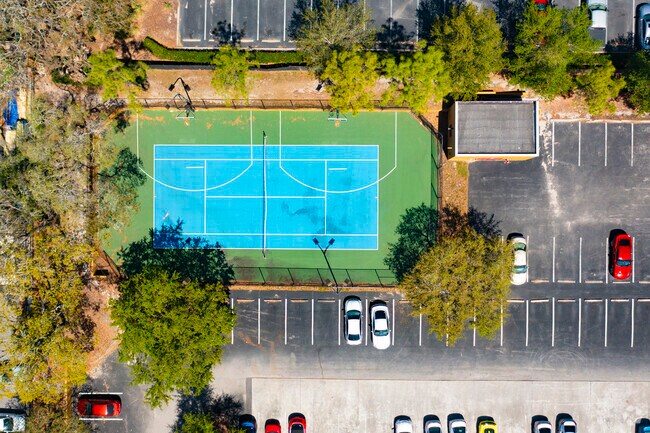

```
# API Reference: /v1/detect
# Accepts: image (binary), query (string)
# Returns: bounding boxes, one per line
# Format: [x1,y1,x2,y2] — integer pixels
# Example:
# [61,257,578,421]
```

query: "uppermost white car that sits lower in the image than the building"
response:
[508,238,530,285]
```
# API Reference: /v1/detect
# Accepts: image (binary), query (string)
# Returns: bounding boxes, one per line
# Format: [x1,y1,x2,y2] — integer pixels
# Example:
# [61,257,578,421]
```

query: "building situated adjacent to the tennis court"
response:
[448,100,540,161]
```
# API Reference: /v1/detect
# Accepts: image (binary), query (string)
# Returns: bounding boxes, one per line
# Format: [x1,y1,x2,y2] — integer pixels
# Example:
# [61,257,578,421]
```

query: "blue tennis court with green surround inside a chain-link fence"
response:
[93,107,439,286]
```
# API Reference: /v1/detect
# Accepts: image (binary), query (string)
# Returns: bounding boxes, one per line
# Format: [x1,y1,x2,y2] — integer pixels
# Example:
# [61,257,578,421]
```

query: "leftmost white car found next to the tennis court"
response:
[342,298,363,345]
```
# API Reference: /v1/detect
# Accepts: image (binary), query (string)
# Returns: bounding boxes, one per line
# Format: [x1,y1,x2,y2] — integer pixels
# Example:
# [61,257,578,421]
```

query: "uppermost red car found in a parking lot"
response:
[609,234,633,279]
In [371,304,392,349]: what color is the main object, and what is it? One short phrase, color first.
white car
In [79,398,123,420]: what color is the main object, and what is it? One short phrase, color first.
red car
